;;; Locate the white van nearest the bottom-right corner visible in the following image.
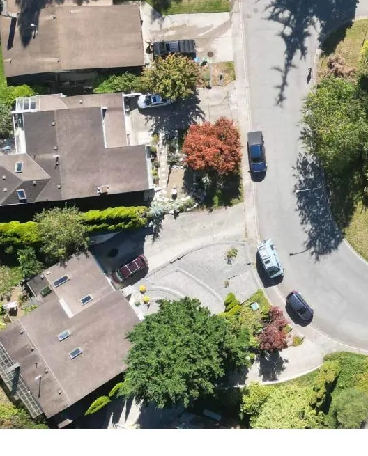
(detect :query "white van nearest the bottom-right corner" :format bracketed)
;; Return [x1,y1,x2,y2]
[254,238,289,284]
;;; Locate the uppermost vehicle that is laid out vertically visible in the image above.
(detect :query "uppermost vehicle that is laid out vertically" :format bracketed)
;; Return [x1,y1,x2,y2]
[248,130,269,173]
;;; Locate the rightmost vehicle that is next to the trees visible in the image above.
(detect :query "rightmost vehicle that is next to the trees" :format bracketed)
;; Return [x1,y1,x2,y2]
[284,286,316,324]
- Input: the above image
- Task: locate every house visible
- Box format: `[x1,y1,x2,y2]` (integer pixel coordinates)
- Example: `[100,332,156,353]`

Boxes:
[0,0,151,77]
[0,250,150,418]
[0,91,157,206]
